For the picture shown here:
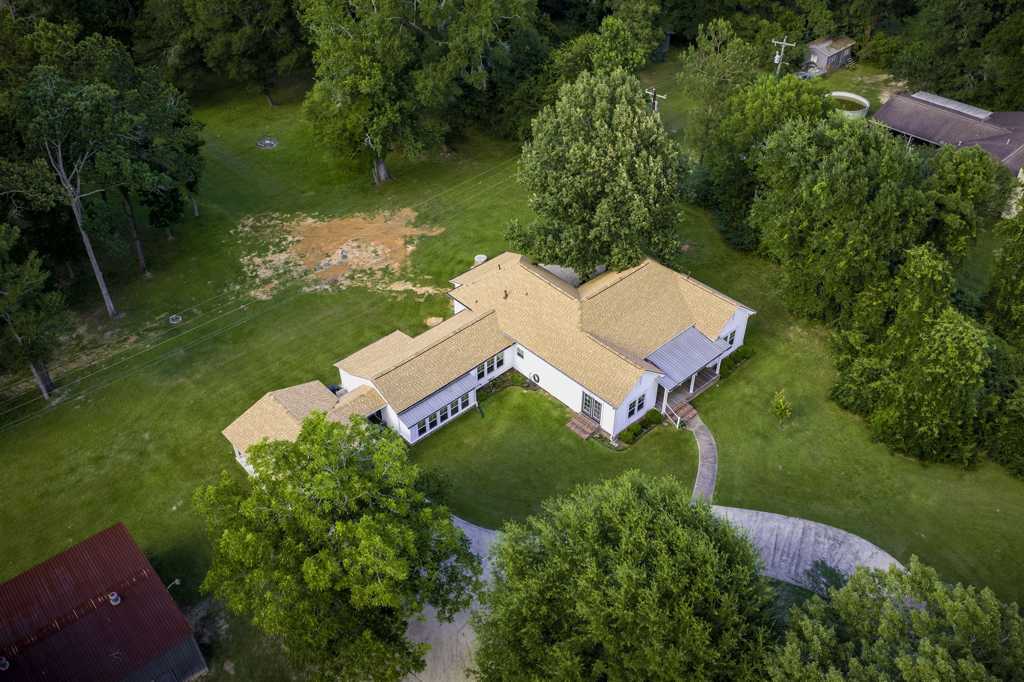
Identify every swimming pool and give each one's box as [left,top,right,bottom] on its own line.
[822,92,873,122]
